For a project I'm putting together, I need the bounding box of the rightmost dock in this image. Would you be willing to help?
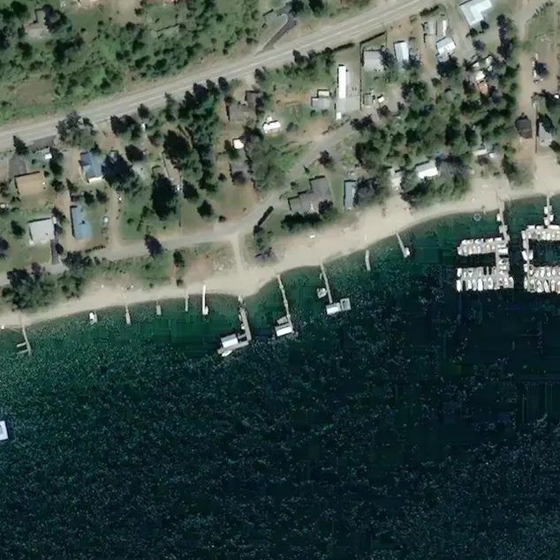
[524,194,560,294]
